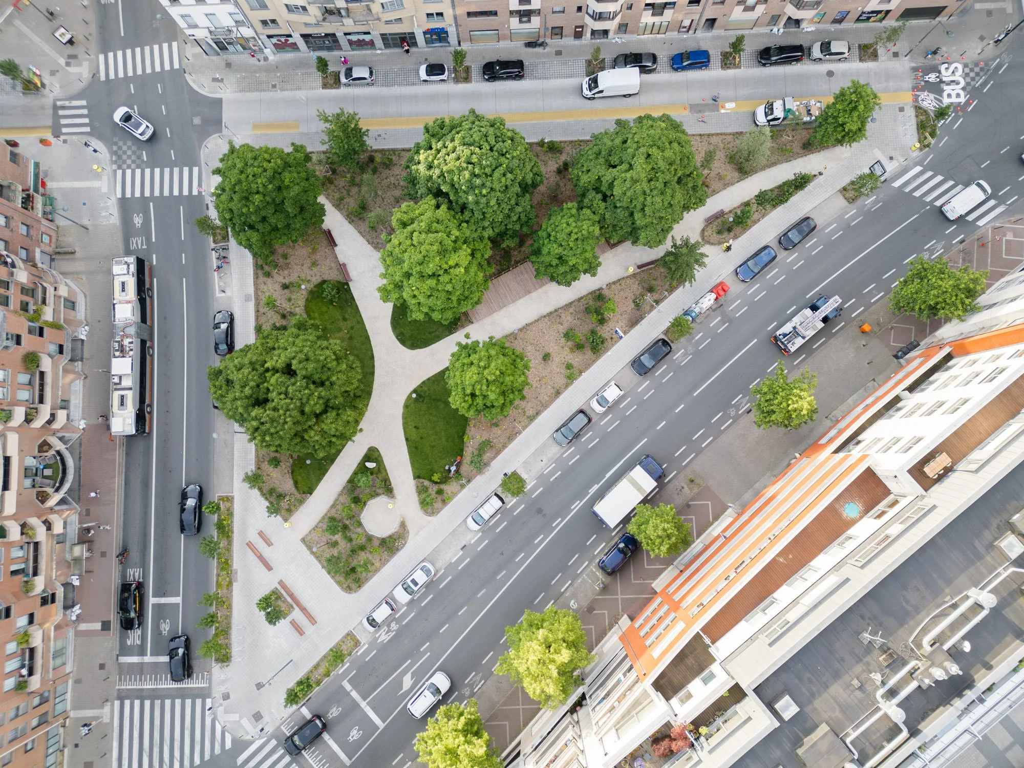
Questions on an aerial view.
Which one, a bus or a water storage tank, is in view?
bus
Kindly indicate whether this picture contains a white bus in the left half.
Yes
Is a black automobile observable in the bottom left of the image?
Yes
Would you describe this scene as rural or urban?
urban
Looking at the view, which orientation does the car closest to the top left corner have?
at an angle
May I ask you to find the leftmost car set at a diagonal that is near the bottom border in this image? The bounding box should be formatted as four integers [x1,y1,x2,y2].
[283,711,330,757]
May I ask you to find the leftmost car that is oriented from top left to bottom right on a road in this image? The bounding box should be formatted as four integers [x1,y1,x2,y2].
[114,104,158,148]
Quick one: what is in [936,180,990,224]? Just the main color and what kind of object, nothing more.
white van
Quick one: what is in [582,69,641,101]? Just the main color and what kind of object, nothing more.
white van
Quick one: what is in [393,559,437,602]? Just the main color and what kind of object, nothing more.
white car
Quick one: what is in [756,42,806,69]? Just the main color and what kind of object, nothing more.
black car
